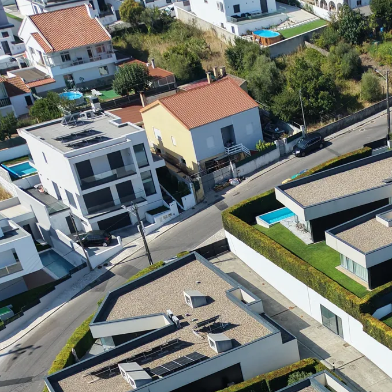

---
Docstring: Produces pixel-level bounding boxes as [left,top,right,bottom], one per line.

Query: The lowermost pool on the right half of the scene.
[255,201,296,226]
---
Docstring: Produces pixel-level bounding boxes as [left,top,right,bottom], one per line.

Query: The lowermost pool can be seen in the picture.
[39,248,70,276]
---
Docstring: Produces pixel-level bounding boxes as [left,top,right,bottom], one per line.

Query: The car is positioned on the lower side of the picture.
[79,229,112,247]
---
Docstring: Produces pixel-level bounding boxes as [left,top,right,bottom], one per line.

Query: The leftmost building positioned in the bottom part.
[0,211,48,301]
